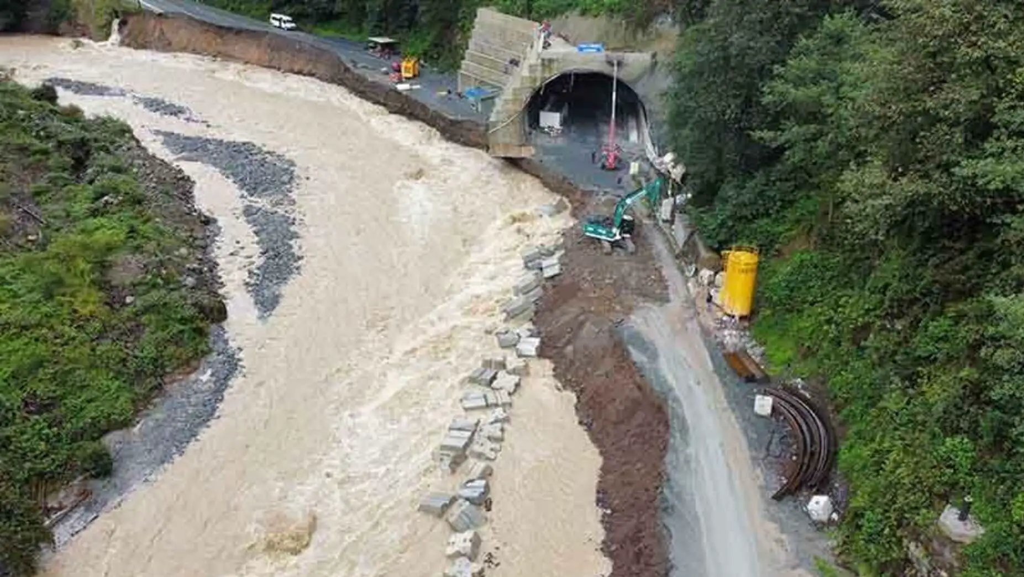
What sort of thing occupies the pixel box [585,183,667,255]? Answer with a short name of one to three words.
work vehicle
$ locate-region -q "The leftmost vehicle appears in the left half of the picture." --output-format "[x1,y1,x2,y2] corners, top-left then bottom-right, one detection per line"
[270,14,295,30]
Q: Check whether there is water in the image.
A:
Yes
